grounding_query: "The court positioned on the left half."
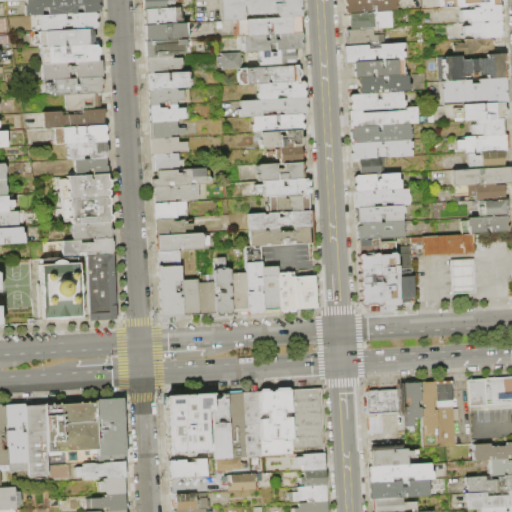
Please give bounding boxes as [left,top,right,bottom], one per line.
[4,262,32,310]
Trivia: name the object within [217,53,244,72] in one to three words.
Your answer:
house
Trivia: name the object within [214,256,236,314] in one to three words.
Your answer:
building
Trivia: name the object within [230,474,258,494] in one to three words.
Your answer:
house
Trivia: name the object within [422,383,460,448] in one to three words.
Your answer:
building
